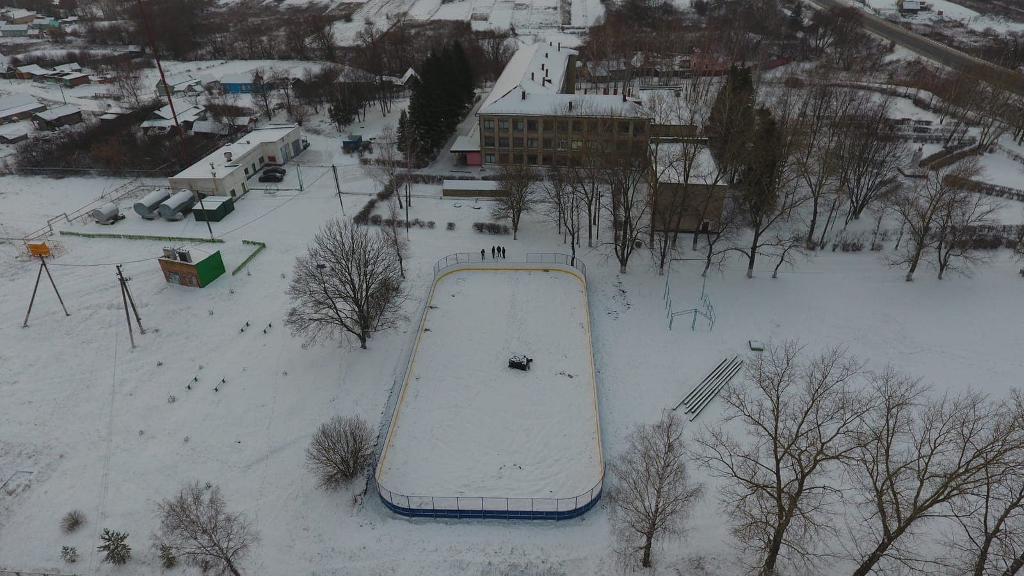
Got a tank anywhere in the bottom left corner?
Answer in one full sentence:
No, in the bottom left corner there is no tank.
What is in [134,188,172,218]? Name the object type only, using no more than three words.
storage tank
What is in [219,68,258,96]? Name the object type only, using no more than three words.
house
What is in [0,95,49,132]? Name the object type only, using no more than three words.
house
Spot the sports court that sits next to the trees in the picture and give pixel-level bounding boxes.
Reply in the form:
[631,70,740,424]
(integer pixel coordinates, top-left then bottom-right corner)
[378,262,602,521]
